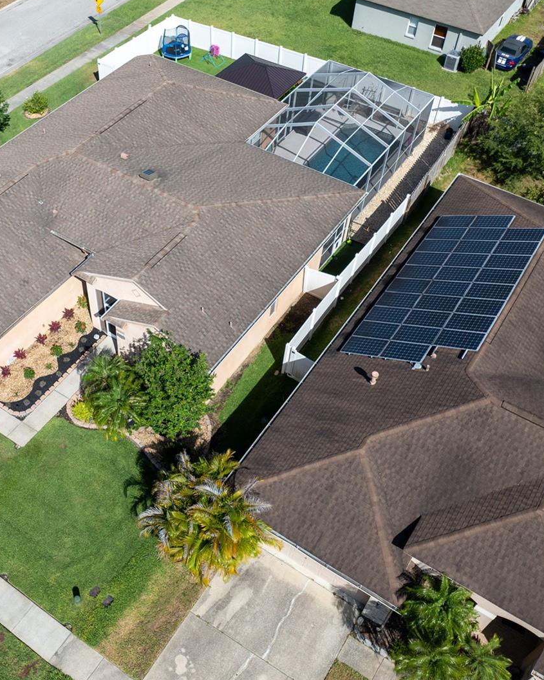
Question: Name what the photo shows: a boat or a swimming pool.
swimming pool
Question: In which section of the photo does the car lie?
top right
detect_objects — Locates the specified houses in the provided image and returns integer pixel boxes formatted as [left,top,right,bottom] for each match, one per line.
[0,53,369,396]
[352,0,527,64]
[211,173,544,680]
